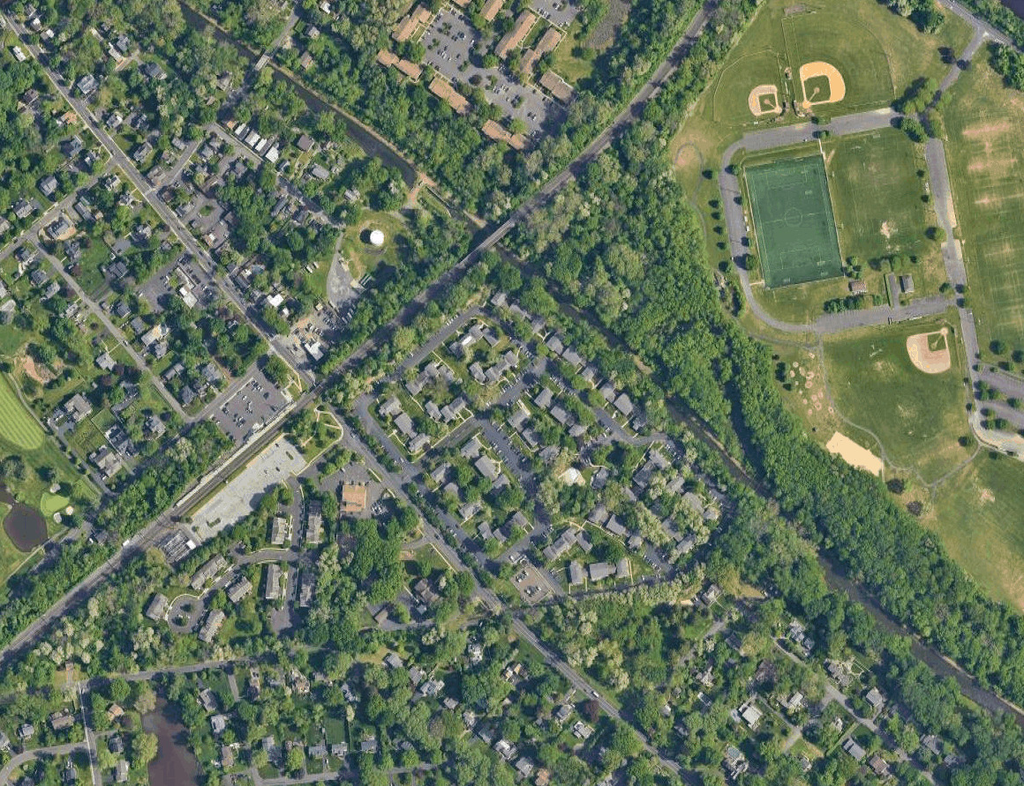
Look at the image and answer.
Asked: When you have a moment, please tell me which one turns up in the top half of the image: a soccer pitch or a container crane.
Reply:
soccer pitch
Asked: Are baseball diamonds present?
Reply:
Yes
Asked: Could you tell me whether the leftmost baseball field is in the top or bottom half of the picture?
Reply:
top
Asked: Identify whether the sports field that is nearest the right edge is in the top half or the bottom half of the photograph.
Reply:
top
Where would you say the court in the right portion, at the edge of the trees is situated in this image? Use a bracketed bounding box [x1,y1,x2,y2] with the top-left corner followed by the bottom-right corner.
[827,432,882,476]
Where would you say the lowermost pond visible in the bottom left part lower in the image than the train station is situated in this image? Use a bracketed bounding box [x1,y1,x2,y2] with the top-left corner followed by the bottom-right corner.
[142,704,201,786]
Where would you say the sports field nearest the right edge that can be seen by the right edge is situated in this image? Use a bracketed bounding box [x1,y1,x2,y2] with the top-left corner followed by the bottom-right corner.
[956,92,1024,347]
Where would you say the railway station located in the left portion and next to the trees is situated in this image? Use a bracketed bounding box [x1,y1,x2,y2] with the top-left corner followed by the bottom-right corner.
[175,401,295,505]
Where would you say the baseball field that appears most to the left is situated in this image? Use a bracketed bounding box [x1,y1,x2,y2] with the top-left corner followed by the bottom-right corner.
[712,50,782,121]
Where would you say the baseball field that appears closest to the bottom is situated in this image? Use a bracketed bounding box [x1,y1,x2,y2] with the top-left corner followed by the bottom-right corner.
[823,327,954,460]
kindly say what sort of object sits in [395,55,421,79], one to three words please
building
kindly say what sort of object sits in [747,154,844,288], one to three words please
soccer field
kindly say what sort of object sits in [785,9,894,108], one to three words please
baseball field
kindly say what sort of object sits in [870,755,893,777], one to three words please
house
